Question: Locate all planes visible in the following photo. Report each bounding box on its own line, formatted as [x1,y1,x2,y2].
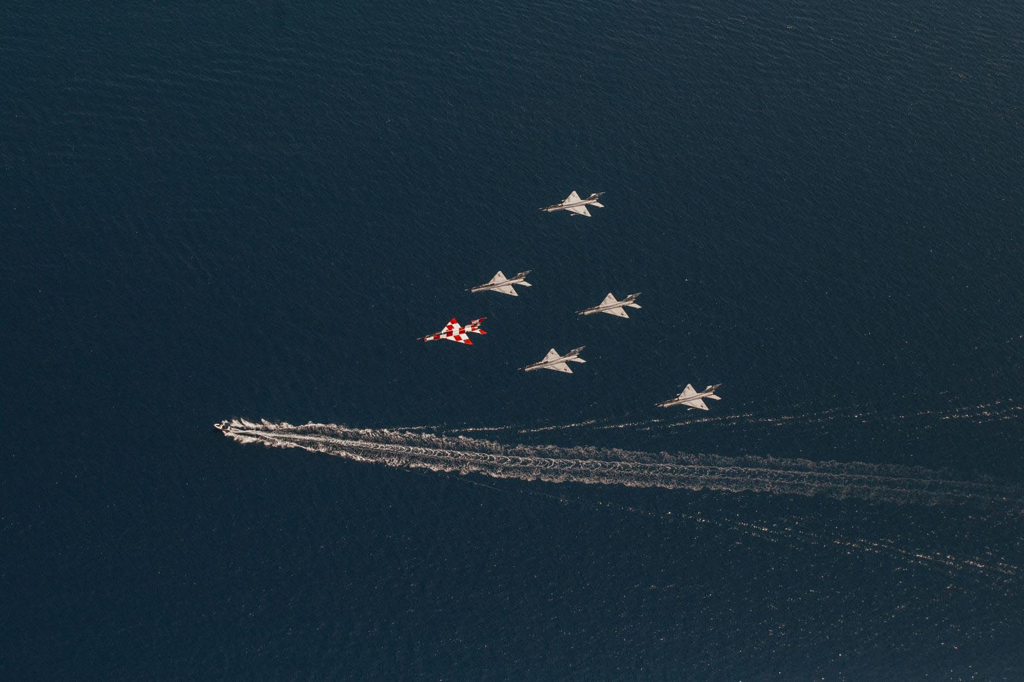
[656,384,720,410]
[576,292,642,318]
[540,191,605,217]
[465,270,531,296]
[419,318,486,344]
[520,347,585,373]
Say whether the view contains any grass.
No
